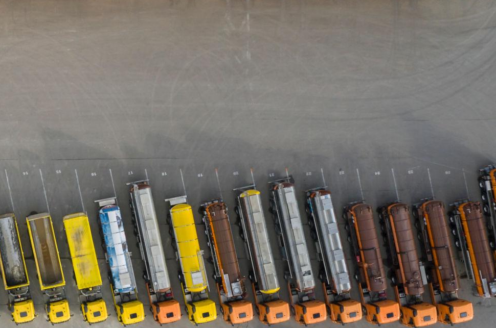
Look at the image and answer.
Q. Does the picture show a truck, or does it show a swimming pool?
truck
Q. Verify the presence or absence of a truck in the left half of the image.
Yes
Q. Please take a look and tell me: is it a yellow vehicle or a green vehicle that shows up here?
yellow vehicle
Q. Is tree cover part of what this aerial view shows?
No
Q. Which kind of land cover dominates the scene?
paved ground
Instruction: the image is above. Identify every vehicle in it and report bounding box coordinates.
[26,209,76,328]
[0,210,40,328]
[263,177,330,327]
[231,183,294,327]
[125,179,184,328]
[342,198,402,328]
[61,210,112,328]
[94,193,148,327]
[410,195,476,328]
[376,198,440,328]
[199,197,257,327]
[300,185,366,328]
[164,192,220,328]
